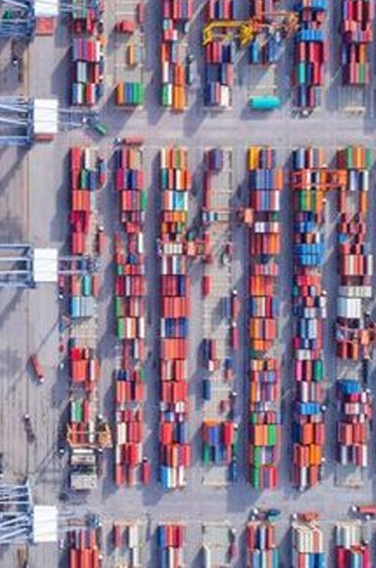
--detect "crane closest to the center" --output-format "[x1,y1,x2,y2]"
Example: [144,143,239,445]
[156,238,209,260]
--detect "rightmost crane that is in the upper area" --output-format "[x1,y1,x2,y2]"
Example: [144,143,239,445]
[289,168,349,192]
